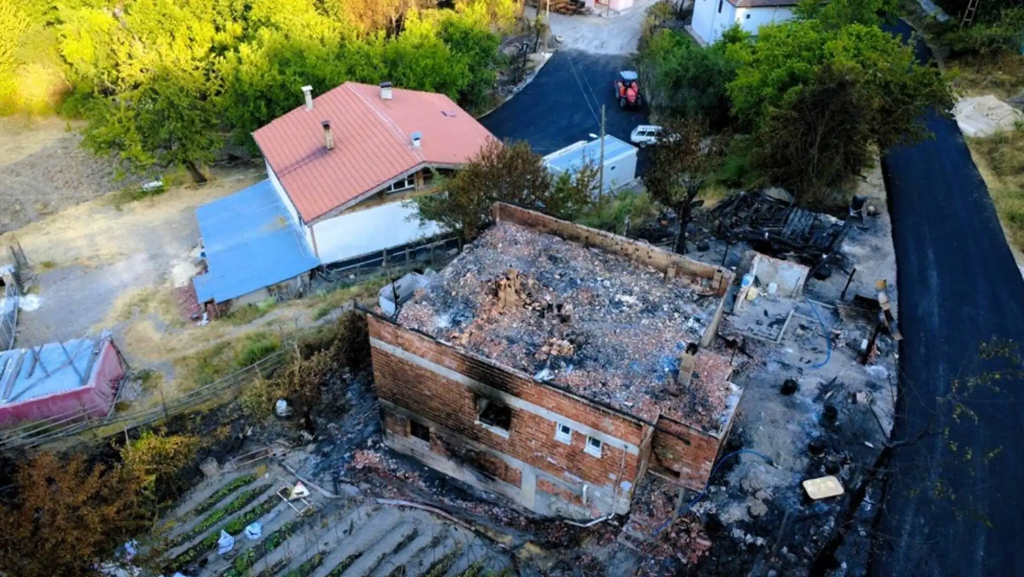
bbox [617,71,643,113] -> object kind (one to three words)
work vehicle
